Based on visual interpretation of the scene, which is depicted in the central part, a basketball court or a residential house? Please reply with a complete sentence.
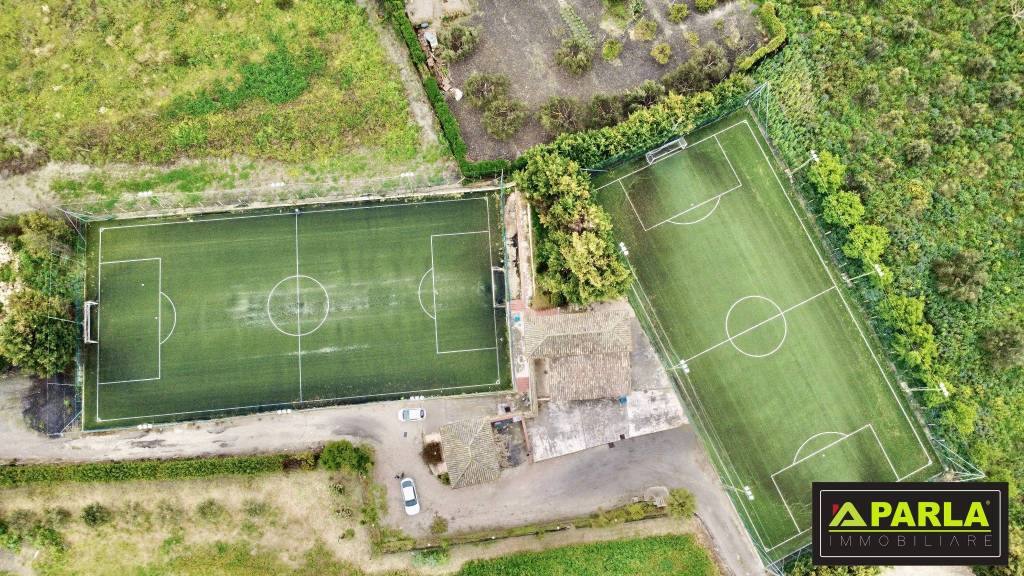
There is a residential house in the central part.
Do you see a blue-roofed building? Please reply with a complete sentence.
No, there is no blue-roofed building in the image.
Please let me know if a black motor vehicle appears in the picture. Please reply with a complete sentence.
No, I find no black motor vehicle anywhere in the image.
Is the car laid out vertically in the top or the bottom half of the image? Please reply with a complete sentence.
The car laid out vertically is in the bottom half of the image.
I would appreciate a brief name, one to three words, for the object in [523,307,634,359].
house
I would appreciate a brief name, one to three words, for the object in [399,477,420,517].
car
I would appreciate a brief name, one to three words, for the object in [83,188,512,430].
soccer field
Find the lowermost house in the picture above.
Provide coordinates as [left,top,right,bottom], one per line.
[439,415,501,490]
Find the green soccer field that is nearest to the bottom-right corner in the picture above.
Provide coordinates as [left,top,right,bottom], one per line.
[578,104,945,570]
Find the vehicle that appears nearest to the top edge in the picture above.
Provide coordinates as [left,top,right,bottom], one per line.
[398,406,427,423]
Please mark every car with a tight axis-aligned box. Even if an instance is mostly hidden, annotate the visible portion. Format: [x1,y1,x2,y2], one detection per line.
[398,406,427,423]
[399,477,420,517]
